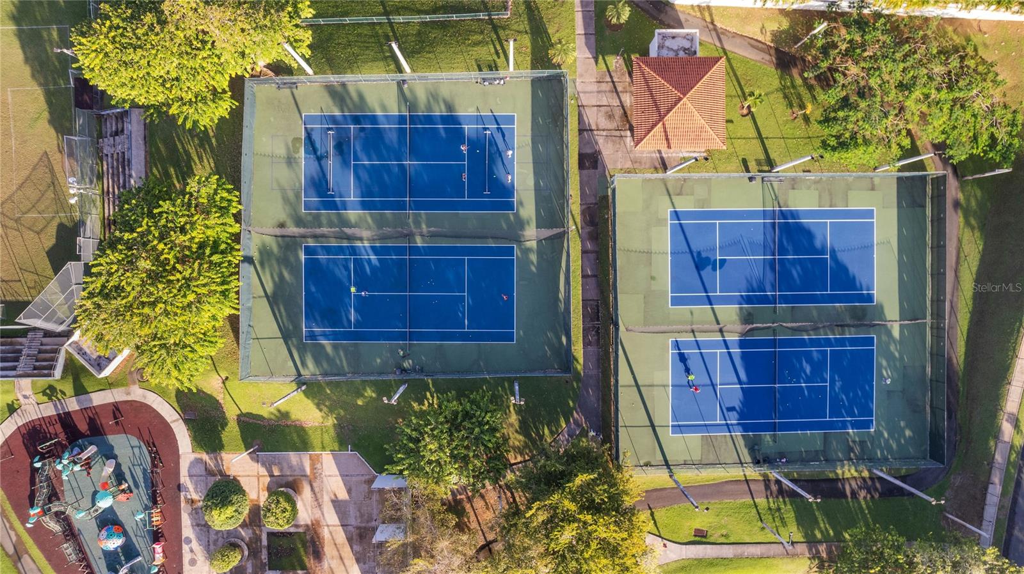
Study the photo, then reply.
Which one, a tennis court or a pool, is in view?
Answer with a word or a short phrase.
tennis court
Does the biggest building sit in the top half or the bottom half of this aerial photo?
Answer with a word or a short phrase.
top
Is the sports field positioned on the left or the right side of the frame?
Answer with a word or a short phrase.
left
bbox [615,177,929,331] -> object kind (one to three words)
tennis court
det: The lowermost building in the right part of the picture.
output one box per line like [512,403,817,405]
[632,56,727,151]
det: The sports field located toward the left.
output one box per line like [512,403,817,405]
[0,0,79,325]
